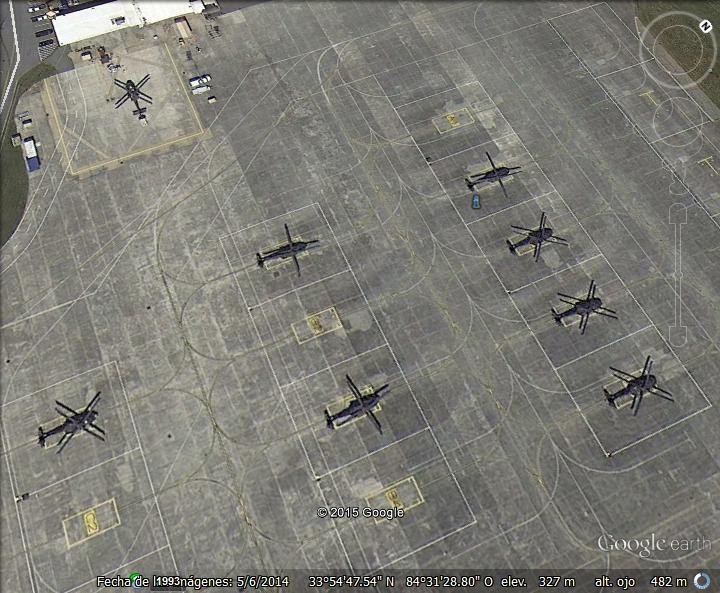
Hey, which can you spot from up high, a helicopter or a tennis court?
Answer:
helicopter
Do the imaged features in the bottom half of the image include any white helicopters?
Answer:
No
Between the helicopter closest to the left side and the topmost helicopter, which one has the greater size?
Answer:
the helicopter closest to the left side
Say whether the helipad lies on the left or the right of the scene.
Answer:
left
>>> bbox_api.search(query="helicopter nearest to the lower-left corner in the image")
[33,397,106,454]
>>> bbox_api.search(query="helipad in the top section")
[43,39,204,174]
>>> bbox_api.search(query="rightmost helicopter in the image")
[604,359,674,414]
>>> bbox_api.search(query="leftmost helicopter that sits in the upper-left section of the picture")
[115,78,154,120]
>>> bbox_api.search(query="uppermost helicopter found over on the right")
[463,155,519,196]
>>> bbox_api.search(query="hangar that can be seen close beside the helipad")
[52,0,202,53]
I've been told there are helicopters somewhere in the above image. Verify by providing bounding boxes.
[552,285,618,336]
[317,380,384,433]
[604,359,674,414]
[507,217,569,263]
[463,155,519,196]
[254,224,316,270]
[33,397,106,454]
[115,78,154,120]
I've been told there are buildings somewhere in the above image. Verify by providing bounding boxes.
[204,4,221,20]
[52,0,202,53]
